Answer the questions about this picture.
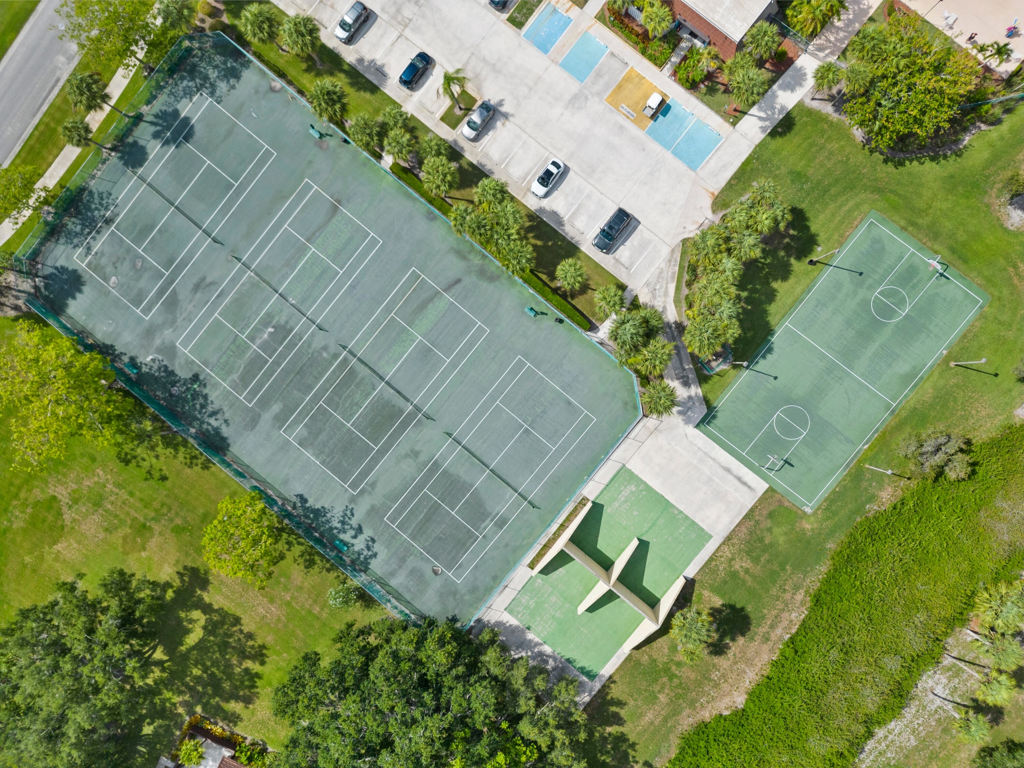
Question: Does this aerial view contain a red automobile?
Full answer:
No, the scene contains no red automobile.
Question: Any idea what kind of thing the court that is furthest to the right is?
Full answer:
Looking closely, the court that is furthest to the right is a basketball court.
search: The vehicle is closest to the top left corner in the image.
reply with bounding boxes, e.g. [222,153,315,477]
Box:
[336,2,369,44]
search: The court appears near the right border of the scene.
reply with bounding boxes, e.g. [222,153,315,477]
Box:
[696,209,991,514]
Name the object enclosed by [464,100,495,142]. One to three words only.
car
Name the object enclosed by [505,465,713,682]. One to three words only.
sports court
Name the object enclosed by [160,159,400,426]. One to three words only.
tennis court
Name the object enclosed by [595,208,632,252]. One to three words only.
car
